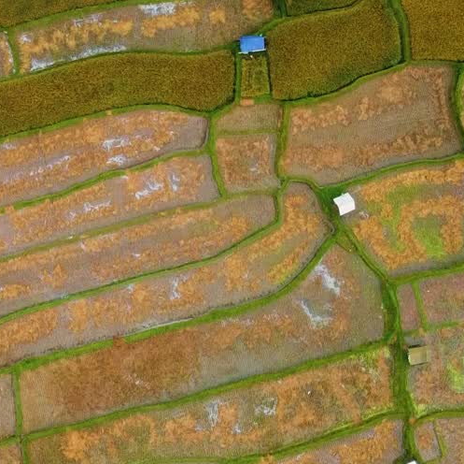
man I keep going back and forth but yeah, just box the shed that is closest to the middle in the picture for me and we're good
[332,193,354,216]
